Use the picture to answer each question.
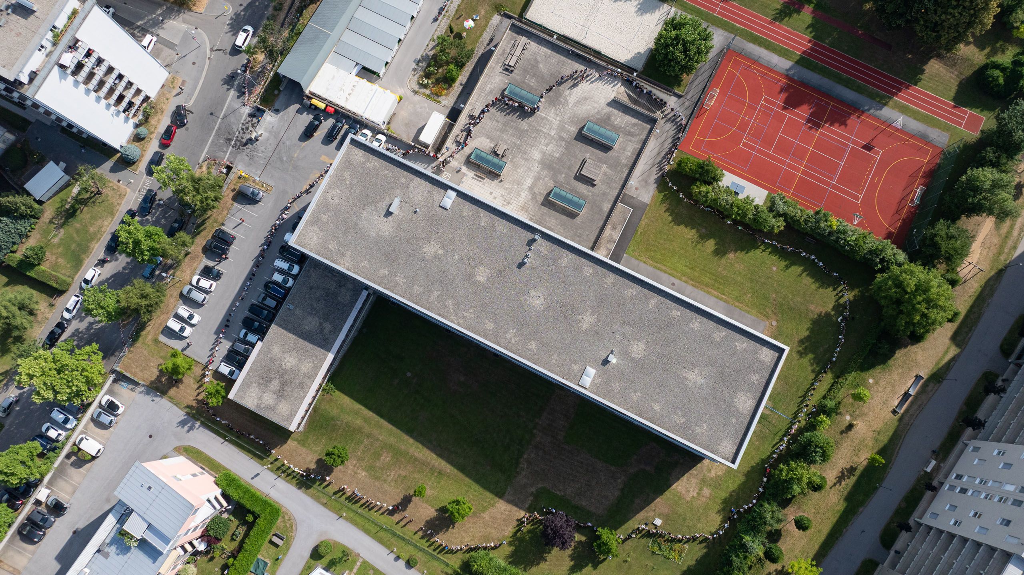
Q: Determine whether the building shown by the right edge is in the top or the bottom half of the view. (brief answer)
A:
bottom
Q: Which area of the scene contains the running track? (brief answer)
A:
top right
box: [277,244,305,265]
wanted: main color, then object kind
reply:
black vehicle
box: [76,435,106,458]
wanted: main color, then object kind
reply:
white vehicle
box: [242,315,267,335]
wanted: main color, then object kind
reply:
black car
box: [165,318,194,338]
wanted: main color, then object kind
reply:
white car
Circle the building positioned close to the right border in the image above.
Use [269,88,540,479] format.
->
[902,309,1024,575]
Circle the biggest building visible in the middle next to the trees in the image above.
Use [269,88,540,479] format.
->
[290,135,788,470]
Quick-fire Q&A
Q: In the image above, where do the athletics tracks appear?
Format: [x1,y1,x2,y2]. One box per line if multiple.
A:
[686,0,984,134]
